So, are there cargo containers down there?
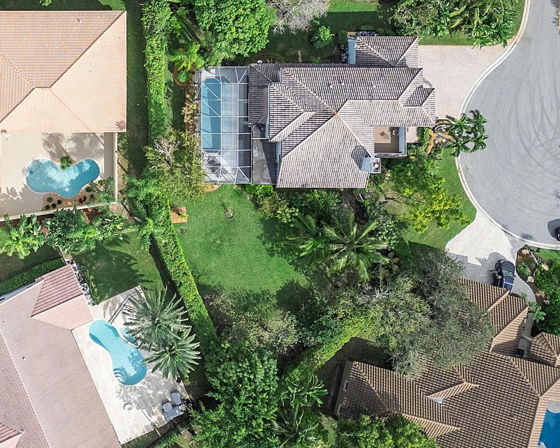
No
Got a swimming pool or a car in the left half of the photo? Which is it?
swimming pool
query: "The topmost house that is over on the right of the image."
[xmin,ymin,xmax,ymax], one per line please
[245,35,437,189]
